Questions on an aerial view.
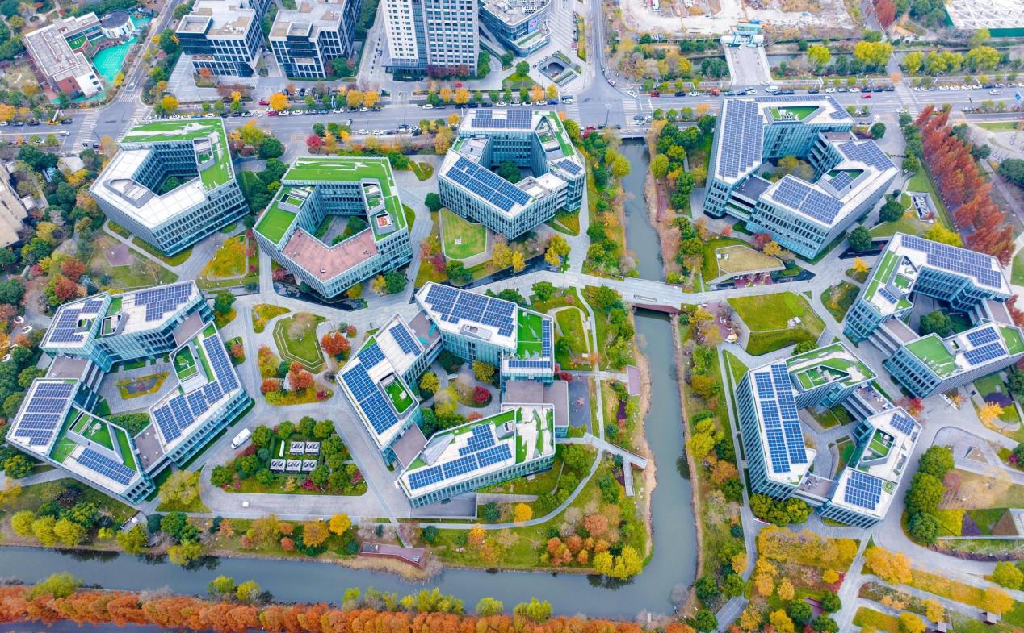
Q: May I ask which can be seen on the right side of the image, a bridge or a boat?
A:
bridge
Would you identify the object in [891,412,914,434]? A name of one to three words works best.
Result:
solar array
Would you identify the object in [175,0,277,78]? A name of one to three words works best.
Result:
building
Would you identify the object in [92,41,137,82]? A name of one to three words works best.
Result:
playground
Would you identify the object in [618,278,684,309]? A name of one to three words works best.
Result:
bridge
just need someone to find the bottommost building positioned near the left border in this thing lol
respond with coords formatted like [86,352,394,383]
[6,280,252,505]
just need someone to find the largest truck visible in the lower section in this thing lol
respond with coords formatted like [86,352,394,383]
[229,426,250,449]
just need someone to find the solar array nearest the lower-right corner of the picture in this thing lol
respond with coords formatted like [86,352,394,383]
[845,470,882,511]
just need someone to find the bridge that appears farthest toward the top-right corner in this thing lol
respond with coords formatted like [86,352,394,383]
[726,45,776,86]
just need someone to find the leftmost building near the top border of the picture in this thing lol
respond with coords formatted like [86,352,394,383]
[25,12,110,96]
